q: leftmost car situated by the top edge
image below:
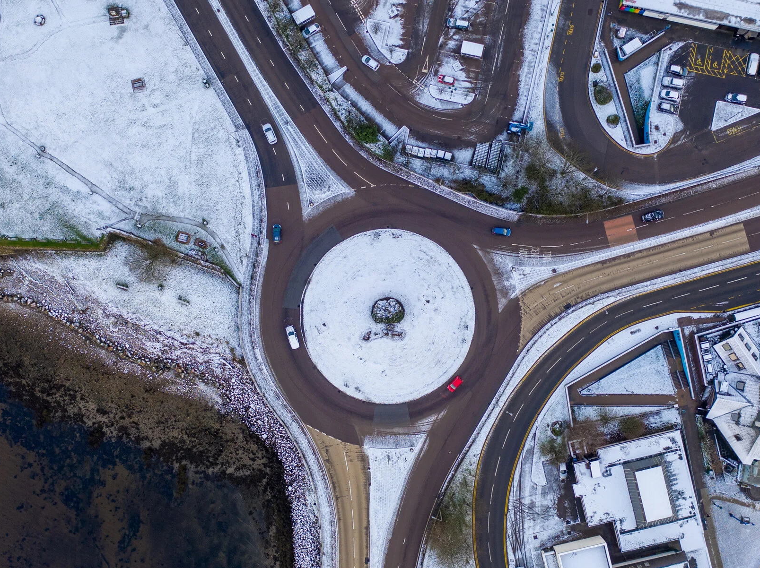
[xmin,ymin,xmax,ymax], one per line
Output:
[303,23,321,37]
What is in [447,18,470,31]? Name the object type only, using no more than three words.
vehicle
